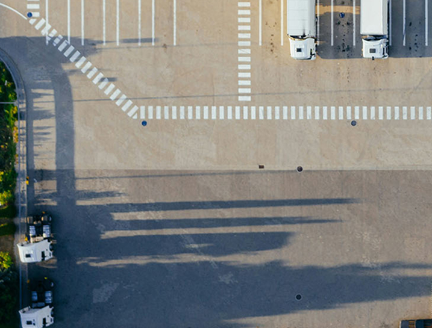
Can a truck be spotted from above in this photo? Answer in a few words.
Yes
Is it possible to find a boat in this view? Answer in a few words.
No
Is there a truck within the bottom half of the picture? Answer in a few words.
Yes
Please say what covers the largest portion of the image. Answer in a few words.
paved ground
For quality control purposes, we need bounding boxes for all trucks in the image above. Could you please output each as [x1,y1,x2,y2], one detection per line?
[15,213,55,263]
[362,0,390,60]
[286,0,319,60]
[17,278,57,328]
